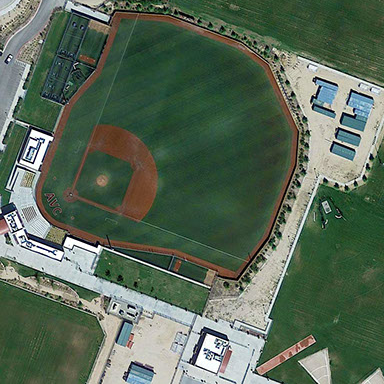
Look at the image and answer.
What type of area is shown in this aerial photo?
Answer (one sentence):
The area seen from above is a sports ground.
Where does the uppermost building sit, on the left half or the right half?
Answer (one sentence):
It is on the left.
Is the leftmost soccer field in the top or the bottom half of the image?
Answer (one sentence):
The leftmost soccer field sits in the bottom half of the picture.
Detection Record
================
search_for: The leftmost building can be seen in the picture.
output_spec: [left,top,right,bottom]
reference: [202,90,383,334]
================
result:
[2,211,25,234]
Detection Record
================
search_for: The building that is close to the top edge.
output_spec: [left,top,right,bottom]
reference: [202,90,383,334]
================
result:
[64,0,109,23]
